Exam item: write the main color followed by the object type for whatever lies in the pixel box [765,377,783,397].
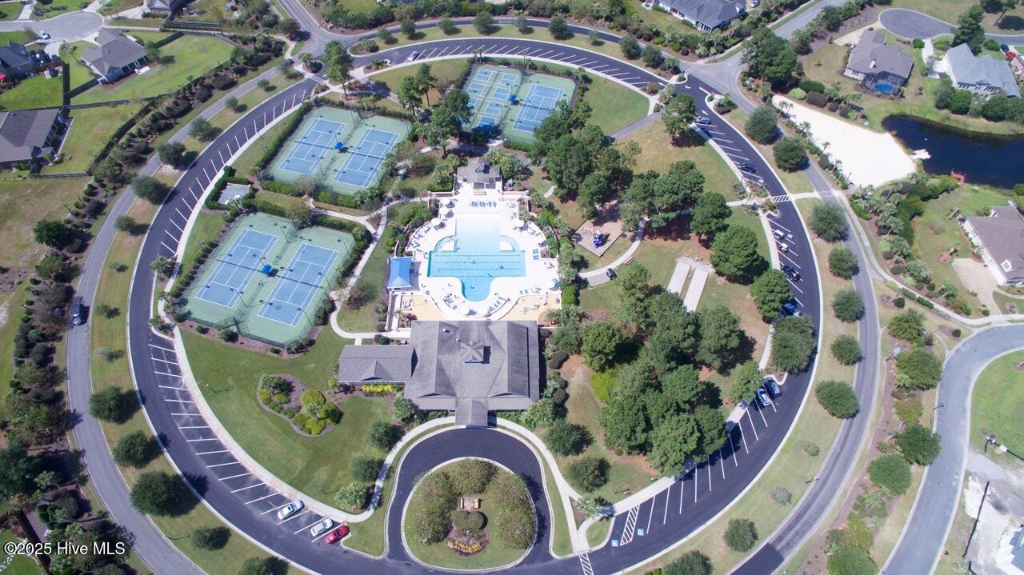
blue car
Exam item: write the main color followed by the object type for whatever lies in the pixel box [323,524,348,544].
red car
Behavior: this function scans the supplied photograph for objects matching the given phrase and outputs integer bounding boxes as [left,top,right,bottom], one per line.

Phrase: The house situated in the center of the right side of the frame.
[964,205,1024,286]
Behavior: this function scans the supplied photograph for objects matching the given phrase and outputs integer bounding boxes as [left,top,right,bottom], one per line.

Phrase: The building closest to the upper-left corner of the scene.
[0,43,43,87]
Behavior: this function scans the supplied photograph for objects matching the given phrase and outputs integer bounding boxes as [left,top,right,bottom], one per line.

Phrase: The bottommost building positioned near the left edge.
[0,109,61,170]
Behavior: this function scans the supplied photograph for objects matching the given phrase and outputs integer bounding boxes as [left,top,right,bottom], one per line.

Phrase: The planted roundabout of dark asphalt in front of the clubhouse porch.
[383,427,555,575]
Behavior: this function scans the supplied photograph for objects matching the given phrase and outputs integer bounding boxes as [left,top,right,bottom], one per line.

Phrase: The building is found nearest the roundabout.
[337,318,540,431]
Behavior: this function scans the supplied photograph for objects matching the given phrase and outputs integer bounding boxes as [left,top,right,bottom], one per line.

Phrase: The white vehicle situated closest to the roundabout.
[308,516,333,537]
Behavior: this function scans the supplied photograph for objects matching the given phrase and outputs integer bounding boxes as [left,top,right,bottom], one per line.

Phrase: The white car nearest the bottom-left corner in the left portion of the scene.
[277,499,301,519]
